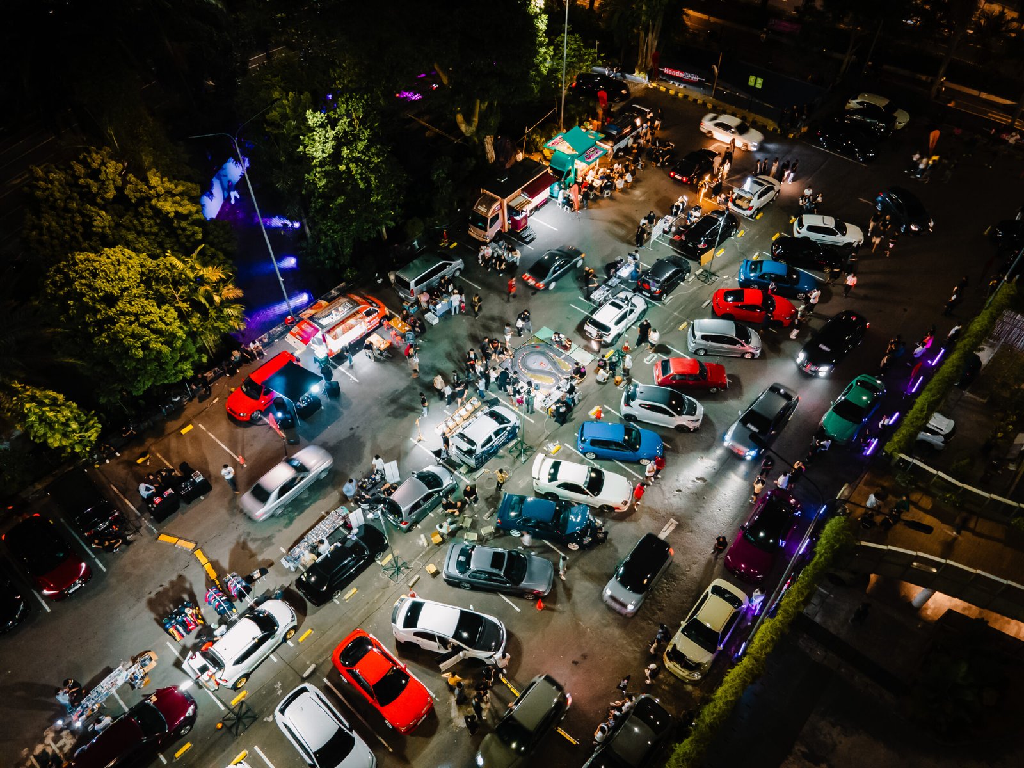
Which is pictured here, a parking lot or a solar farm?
parking lot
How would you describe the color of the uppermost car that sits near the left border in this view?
black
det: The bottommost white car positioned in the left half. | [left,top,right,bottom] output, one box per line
[270,672,385,768]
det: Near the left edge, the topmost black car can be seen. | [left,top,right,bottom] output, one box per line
[36,465,121,545]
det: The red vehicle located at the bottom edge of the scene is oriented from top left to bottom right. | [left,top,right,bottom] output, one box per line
[327,623,434,740]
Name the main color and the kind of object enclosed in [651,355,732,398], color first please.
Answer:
red car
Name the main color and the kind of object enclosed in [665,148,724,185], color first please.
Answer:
black car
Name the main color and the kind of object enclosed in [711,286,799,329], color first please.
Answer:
red car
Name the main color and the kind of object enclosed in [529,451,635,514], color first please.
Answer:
white car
